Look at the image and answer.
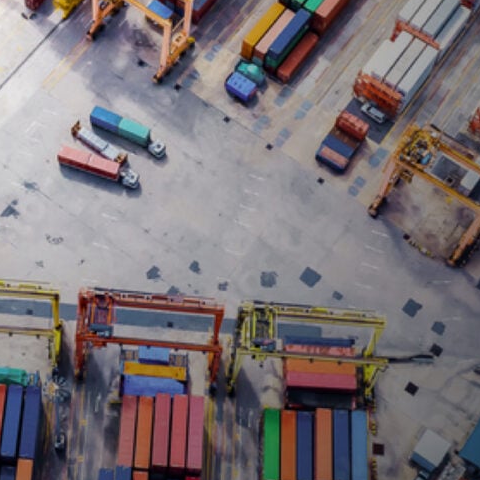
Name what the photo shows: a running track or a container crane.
container crane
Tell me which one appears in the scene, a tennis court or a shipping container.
shipping container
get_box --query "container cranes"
[86,0,197,88]
[361,123,480,274]
[0,279,63,389]
[73,282,228,402]
[225,294,443,415]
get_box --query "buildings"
[410,426,454,472]
[452,406,480,480]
